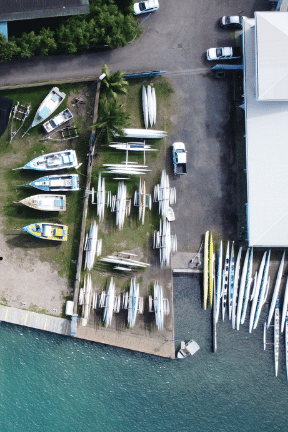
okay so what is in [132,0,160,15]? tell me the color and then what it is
white car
